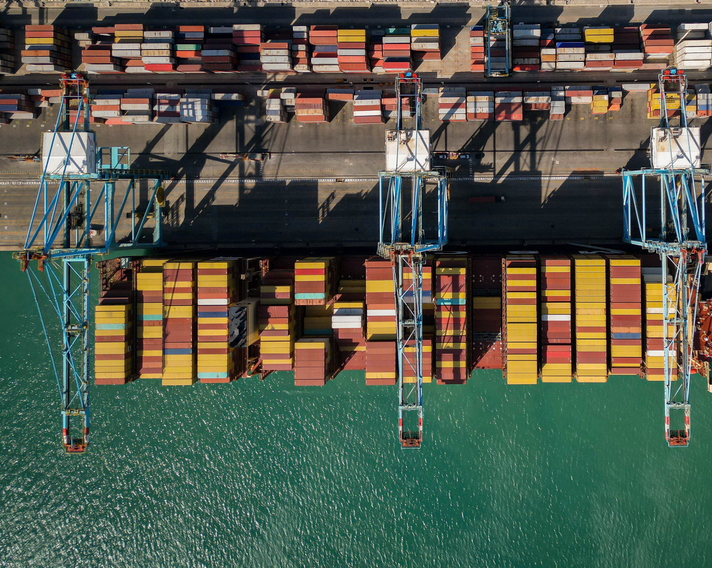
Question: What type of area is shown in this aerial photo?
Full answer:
What you see here is a port.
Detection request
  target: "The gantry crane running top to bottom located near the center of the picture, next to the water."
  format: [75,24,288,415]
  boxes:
[375,67,460,452]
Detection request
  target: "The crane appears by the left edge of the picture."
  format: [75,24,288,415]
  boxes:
[17,69,175,454]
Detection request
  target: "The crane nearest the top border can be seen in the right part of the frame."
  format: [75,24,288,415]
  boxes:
[481,1,512,83]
